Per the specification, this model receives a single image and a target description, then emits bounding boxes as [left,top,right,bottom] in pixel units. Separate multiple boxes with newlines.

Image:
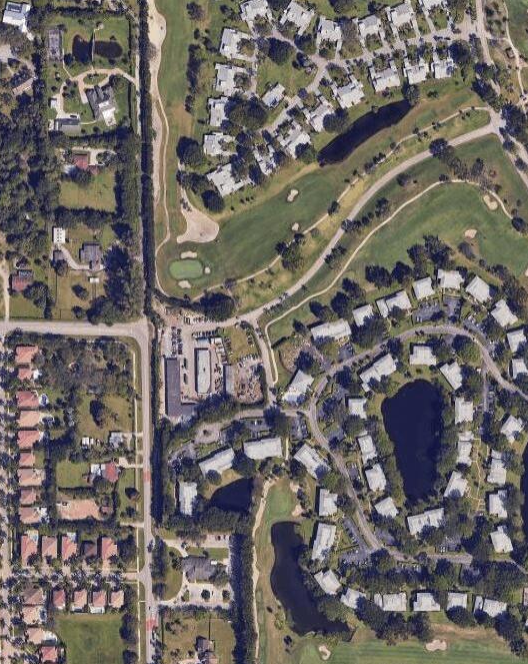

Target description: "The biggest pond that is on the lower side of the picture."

[269,520,355,639]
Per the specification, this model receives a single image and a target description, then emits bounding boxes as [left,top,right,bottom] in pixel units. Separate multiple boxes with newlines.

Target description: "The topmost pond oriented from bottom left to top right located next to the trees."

[315,99,411,164]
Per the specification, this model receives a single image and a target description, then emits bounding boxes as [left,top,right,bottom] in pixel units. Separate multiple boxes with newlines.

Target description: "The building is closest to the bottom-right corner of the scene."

[473,596,507,619]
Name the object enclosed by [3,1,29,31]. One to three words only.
house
